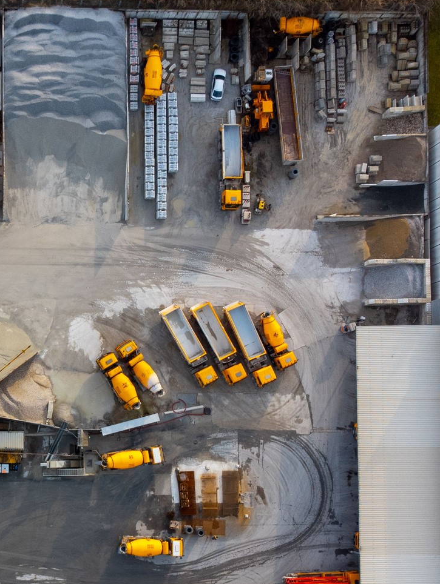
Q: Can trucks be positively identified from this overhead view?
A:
Yes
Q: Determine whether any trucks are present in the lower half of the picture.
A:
Yes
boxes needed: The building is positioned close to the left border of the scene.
[0,432,24,450]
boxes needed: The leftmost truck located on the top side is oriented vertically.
[139,40,164,111]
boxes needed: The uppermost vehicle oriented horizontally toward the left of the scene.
[96,441,167,469]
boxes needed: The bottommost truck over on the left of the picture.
[114,535,185,559]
